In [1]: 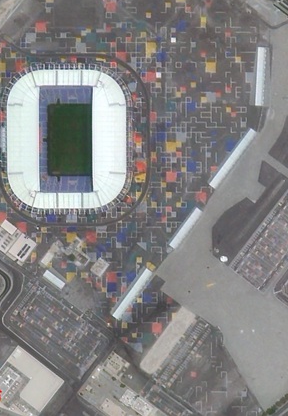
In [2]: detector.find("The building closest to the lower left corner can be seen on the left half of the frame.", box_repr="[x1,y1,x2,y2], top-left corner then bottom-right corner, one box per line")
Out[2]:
[0,368,20,401]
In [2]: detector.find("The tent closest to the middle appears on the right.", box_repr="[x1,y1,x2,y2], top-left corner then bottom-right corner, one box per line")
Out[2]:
[168,207,203,249]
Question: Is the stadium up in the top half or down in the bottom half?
top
